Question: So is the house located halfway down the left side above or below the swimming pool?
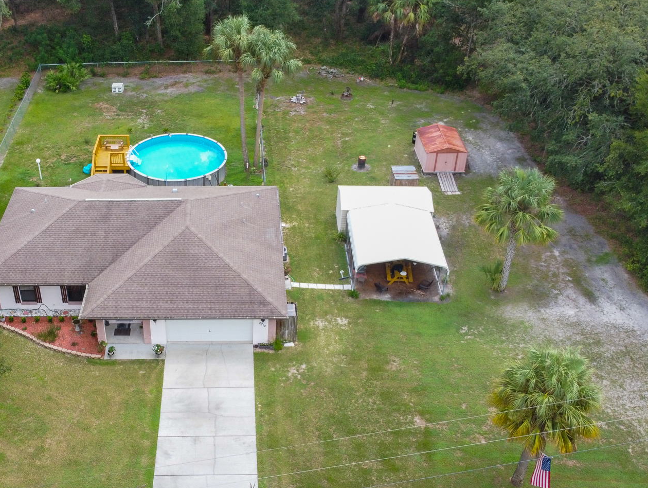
below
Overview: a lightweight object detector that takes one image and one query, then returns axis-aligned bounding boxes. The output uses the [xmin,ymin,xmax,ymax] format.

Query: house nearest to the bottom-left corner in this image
[0,173,289,342]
